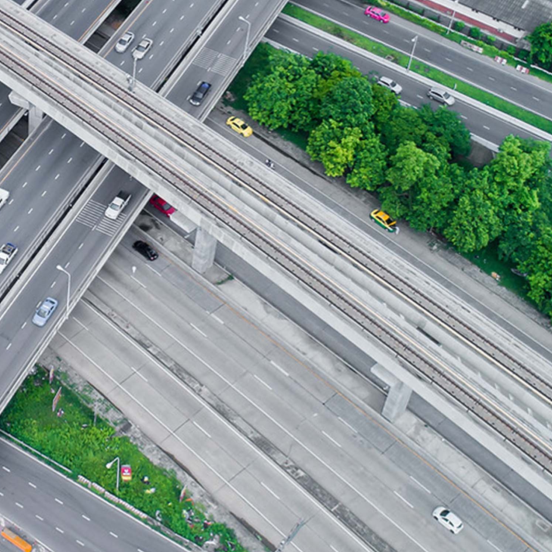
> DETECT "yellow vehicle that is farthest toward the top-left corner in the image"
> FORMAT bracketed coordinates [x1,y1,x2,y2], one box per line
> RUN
[226,116,254,137]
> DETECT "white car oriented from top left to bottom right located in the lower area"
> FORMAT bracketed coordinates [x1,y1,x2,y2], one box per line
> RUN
[430,504,469,537]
